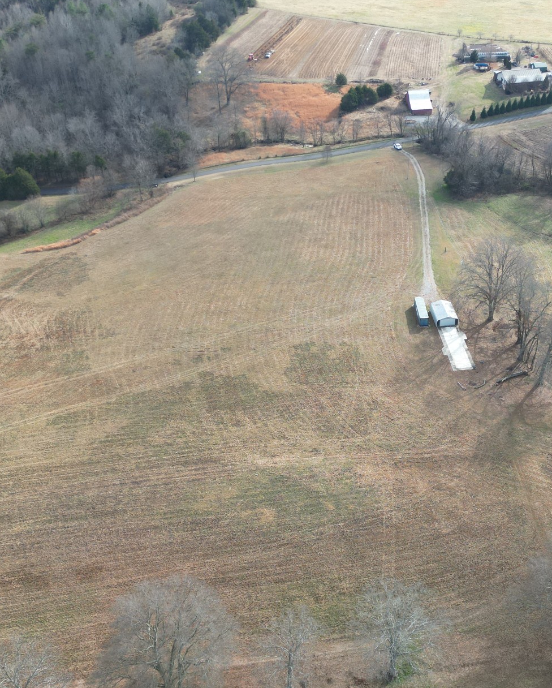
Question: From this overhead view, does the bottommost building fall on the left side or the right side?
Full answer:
It is on the right.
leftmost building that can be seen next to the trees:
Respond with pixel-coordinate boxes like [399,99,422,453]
[404,89,433,115]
